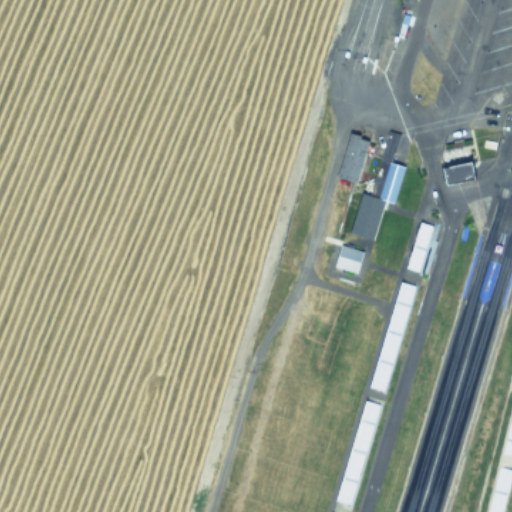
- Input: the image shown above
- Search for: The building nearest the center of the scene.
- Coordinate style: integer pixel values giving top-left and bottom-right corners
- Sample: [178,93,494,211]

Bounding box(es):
[336,246,365,274]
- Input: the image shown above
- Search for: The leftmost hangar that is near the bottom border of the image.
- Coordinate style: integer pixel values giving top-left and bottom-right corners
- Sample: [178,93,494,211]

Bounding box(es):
[338,401,382,507]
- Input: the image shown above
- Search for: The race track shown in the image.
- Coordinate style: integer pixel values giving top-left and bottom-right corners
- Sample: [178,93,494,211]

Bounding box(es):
[402,186,512,512]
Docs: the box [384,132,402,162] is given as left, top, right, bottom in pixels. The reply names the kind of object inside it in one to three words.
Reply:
building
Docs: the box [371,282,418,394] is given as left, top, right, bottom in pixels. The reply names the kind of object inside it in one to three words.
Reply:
hangar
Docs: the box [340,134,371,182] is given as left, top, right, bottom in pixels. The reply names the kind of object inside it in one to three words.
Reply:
shed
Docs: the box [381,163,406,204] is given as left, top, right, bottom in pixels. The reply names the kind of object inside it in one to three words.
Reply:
building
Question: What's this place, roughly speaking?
farmland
